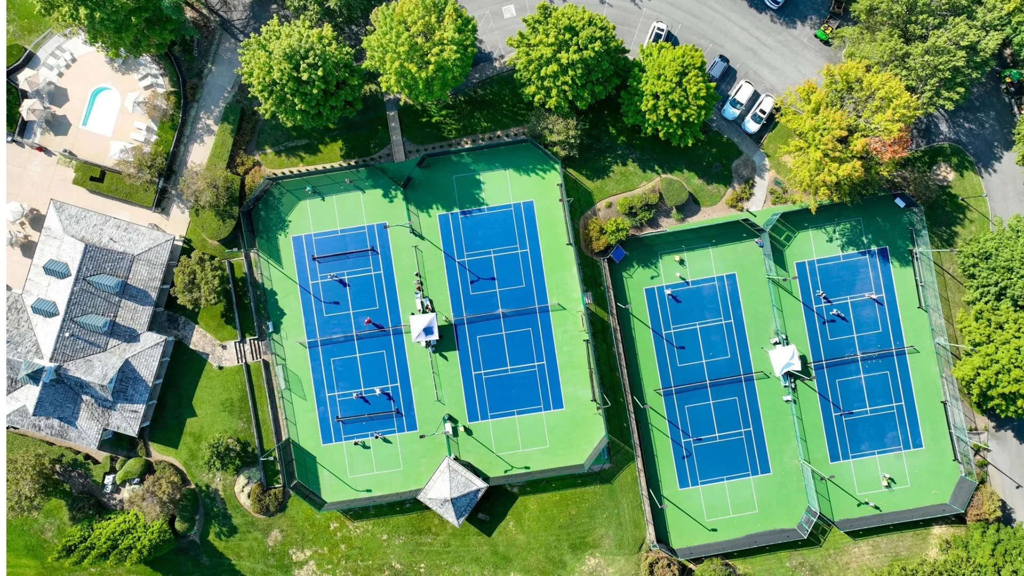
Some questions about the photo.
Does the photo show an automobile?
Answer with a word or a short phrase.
Yes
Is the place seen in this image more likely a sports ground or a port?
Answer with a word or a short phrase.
sports ground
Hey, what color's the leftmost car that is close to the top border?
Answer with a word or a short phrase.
white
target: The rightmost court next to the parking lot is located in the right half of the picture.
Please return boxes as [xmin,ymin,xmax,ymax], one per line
[763,192,961,522]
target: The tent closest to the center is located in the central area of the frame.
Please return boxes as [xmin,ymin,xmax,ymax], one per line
[410,312,440,342]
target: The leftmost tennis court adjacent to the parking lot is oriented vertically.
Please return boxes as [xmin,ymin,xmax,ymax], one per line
[252,162,449,501]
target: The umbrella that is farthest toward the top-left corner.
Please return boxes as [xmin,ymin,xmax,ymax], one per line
[19,69,43,93]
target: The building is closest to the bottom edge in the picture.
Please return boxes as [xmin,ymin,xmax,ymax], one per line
[417,451,489,528]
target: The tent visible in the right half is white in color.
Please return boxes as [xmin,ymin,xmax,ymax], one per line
[762,343,801,376]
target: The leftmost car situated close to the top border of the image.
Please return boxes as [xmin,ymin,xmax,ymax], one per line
[636,17,667,61]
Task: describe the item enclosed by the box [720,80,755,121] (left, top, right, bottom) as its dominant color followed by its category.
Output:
white car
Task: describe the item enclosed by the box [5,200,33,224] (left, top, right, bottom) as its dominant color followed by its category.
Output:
white umbrella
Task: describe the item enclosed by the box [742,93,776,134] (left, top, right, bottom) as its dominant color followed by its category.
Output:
white car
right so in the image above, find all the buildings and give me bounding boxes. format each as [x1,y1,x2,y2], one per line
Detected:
[417,451,489,528]
[0,198,190,451]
